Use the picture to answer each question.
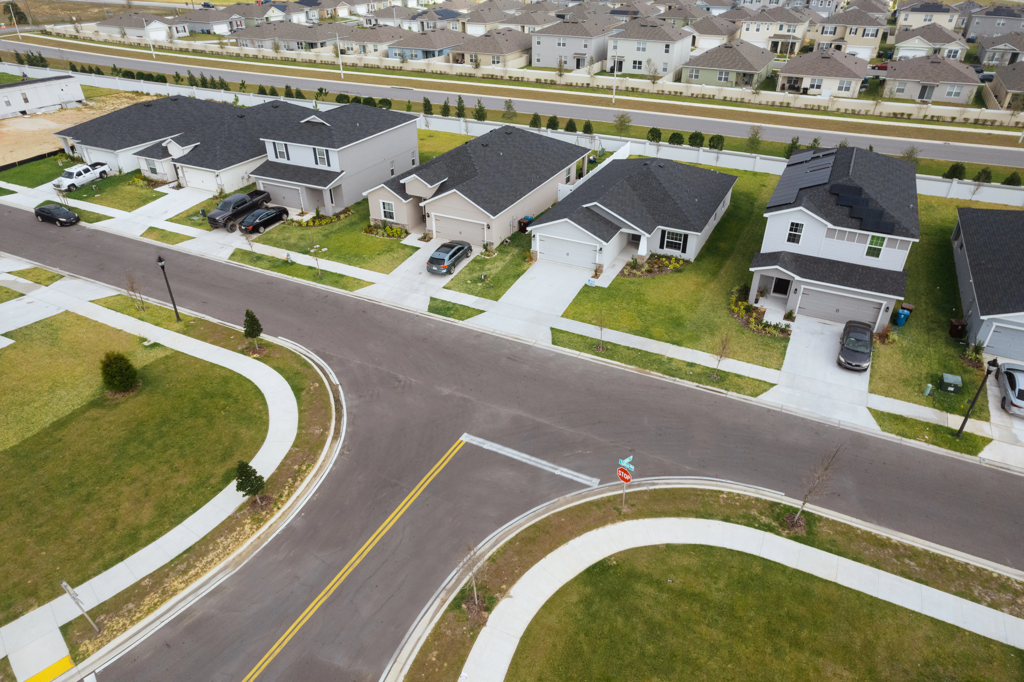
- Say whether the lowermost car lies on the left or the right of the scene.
right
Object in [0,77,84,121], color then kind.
white trailer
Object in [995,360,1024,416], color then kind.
gray car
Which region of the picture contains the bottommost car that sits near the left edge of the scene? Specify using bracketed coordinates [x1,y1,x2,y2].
[32,204,79,228]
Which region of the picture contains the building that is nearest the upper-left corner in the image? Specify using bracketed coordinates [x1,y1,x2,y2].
[96,12,186,38]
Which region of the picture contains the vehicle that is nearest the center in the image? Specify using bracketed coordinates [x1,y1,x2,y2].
[426,241,473,275]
